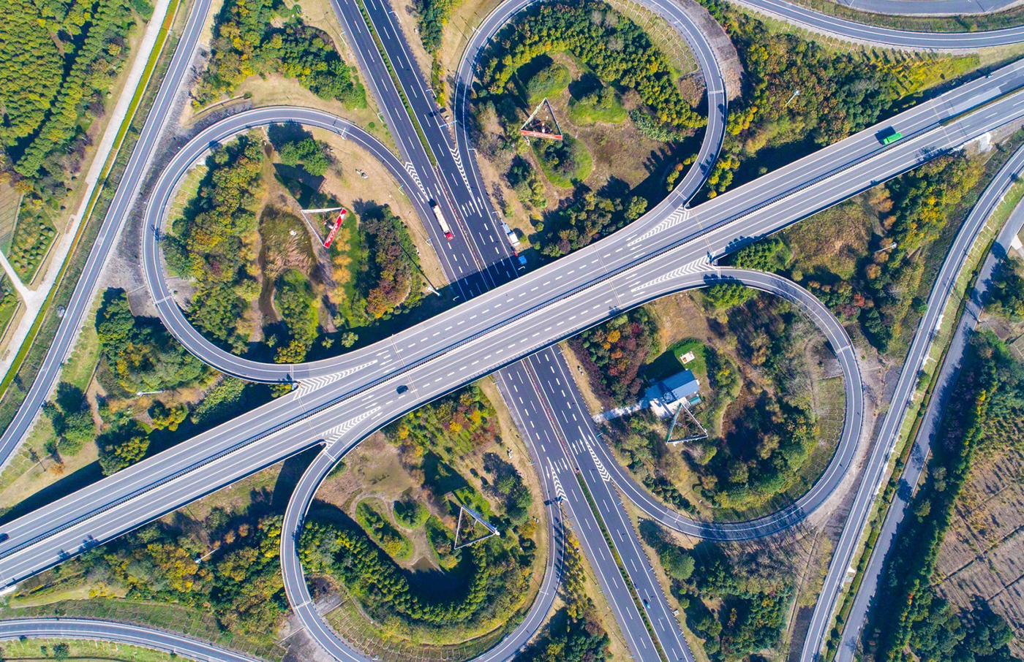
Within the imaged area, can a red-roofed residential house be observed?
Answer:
No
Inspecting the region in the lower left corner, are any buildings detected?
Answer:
No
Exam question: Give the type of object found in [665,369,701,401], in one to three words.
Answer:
house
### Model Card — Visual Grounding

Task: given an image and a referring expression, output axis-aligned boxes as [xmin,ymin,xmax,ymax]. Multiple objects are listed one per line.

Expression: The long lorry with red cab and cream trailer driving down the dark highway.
[432,205,453,239]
